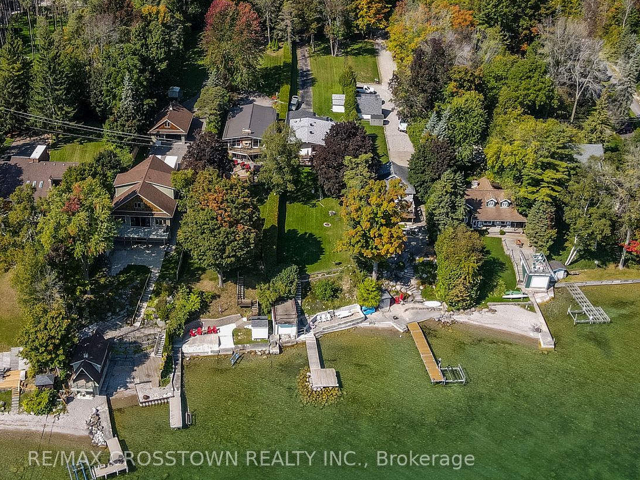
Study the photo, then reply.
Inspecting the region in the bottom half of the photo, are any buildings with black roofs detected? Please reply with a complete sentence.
Yes, a building with a black roof appears in the bottom half of the photo.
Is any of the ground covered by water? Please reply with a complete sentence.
Yes, some water is visible.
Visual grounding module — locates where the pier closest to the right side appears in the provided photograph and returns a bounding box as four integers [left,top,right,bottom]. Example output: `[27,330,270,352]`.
[566,280,612,328]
